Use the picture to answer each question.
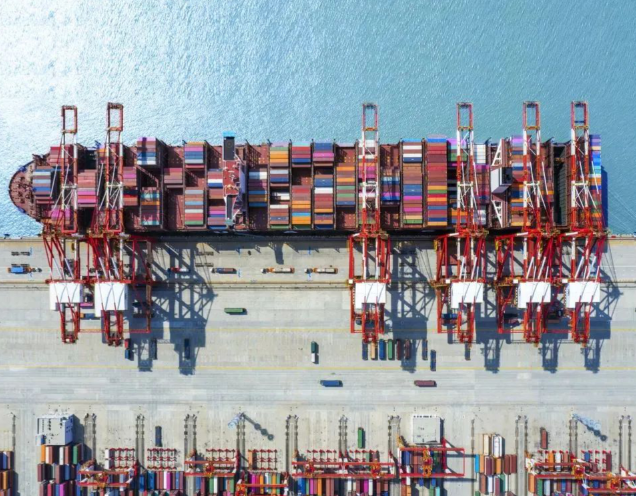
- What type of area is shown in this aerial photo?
port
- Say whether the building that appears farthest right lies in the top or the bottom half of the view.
bottom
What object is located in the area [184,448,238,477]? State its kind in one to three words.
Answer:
container crane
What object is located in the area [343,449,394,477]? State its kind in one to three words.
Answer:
container crane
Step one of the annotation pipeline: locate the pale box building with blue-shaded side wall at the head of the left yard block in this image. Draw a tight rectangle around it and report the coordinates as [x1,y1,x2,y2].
[37,412,76,445]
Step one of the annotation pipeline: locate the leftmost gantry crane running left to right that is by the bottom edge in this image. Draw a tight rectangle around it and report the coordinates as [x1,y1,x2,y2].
[78,458,138,485]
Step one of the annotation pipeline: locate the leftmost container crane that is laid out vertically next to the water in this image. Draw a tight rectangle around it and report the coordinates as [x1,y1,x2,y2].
[42,104,120,342]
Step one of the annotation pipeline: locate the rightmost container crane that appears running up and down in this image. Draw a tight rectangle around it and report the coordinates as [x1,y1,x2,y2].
[534,101,605,342]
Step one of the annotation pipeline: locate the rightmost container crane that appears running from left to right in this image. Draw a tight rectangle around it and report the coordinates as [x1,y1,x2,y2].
[576,466,636,492]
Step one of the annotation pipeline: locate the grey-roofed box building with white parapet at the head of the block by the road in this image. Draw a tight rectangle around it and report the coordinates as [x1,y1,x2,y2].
[407,411,440,442]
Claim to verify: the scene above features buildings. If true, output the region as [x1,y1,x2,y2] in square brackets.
[37,412,76,445]
[407,411,440,442]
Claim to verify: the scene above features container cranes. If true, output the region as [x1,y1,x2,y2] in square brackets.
[78,458,138,485]
[576,466,636,492]
[292,448,342,477]
[42,104,120,342]
[237,469,288,496]
[432,102,484,342]
[396,436,463,477]
[534,101,605,342]
[343,449,394,477]
[184,448,238,477]
[91,101,161,342]
[491,101,553,342]
[348,102,390,342]
[525,450,586,479]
